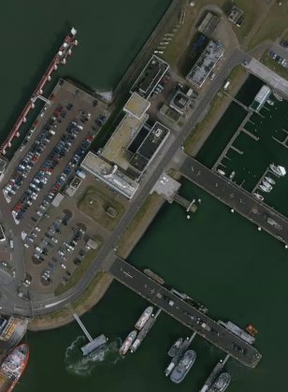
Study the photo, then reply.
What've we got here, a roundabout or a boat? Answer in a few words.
boat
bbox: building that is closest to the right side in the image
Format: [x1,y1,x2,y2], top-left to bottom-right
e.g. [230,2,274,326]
[249,85,272,112]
